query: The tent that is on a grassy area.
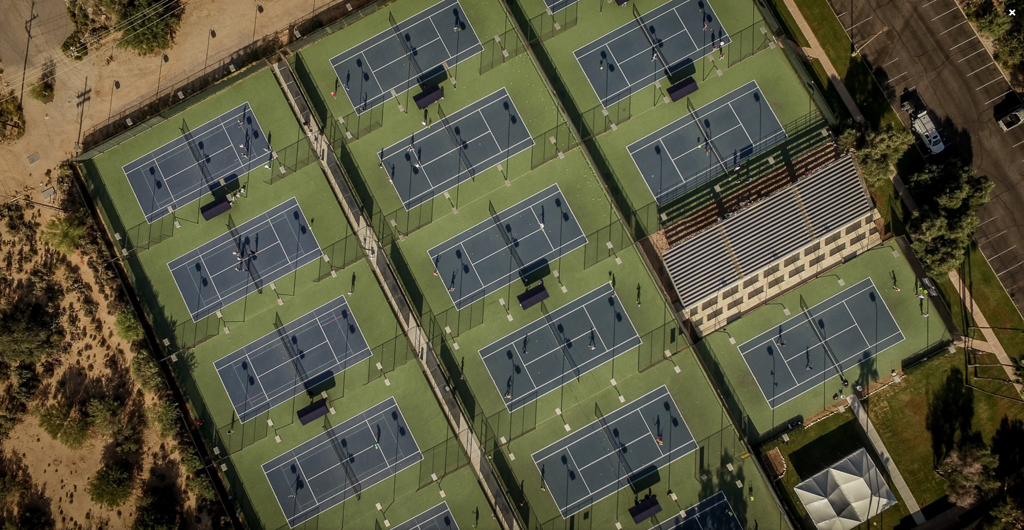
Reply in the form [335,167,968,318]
[787,445,898,530]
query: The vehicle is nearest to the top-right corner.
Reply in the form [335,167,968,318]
[999,107,1024,130]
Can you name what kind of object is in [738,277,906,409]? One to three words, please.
tennis court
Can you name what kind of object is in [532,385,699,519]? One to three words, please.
tennis court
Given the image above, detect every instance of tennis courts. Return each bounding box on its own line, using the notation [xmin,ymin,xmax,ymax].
[214,295,372,424]
[738,277,906,409]
[391,501,459,530]
[167,197,323,322]
[378,88,535,211]
[262,397,424,528]
[479,282,642,413]
[330,0,484,115]
[626,80,787,205]
[532,385,699,519]
[573,0,732,108]
[650,491,743,530]
[123,102,276,224]
[428,184,588,310]
[545,0,578,14]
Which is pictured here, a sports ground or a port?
sports ground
